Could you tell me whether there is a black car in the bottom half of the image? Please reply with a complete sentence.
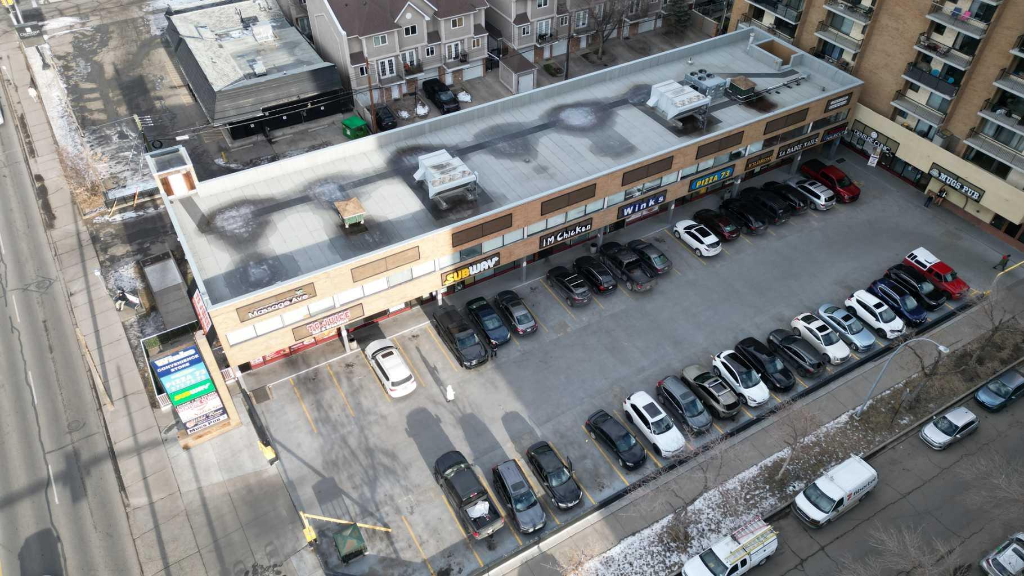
Yes, a black car is visible in the bottom half of the image.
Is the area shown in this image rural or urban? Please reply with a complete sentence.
The area is urban.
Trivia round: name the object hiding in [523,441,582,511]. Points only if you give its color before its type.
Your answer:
black car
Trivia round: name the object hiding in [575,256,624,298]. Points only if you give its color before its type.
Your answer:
black car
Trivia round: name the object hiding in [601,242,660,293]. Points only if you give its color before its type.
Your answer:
black truck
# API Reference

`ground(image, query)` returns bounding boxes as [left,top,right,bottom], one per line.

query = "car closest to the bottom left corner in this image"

[371,341,417,394]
